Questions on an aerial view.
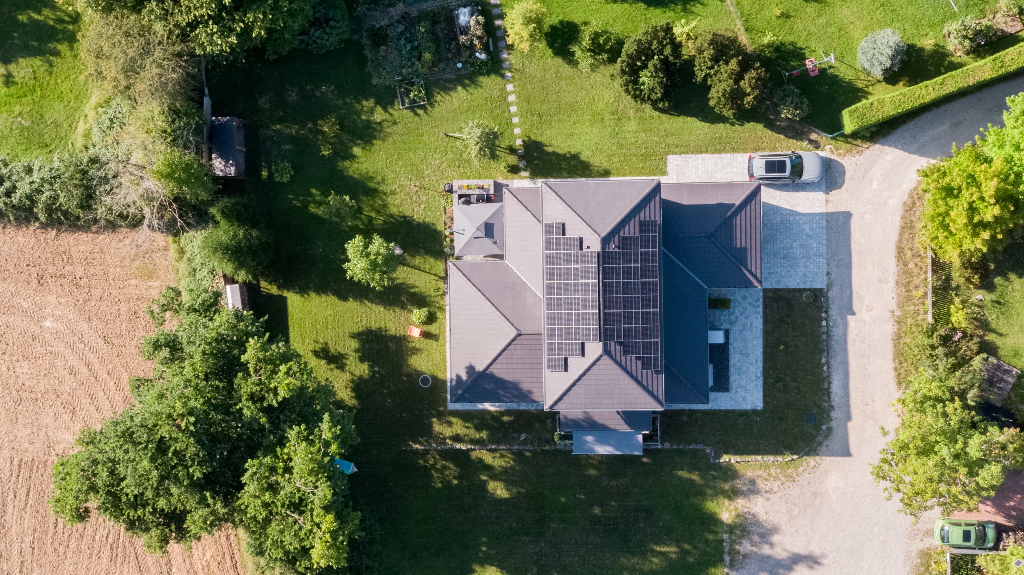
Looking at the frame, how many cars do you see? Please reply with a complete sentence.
I count 2 cars.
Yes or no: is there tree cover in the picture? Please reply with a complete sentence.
Yes, the picture does contain tree cover.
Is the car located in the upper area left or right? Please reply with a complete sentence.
The car located in the upper area sits on the right side.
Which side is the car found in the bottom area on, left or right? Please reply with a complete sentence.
The car found in the bottom area sits on the right side.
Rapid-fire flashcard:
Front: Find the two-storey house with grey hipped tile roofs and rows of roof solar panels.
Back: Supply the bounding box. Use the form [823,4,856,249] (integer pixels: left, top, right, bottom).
[447,177,764,413]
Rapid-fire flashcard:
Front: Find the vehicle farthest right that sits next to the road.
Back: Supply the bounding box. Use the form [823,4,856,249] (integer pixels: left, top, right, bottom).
[931,517,996,554]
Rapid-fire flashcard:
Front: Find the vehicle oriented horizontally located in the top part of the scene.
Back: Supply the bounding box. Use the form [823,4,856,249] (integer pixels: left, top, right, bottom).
[747,148,823,183]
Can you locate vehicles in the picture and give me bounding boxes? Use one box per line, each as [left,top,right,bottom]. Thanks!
[747,148,823,183]
[931,517,996,554]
